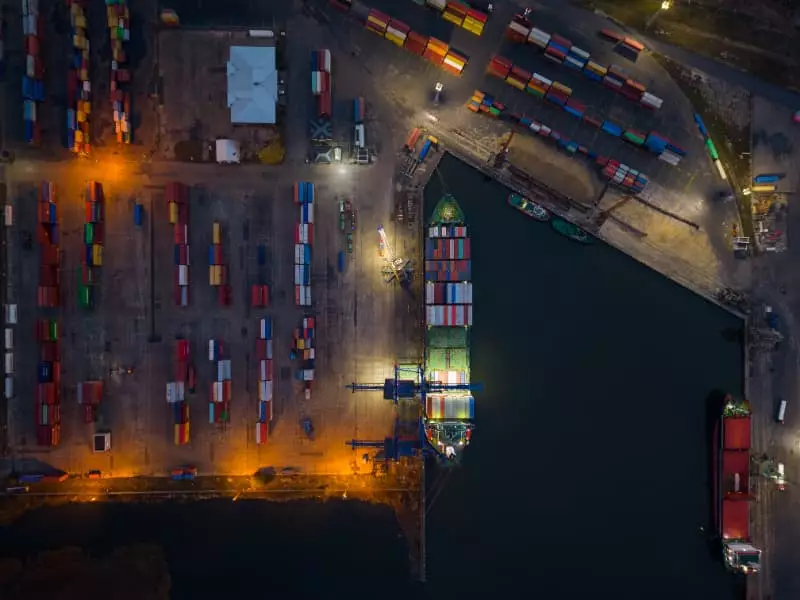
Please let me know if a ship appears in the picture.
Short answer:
Yes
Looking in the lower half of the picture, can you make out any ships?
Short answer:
Yes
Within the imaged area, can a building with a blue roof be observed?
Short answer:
Yes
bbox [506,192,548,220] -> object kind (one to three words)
boat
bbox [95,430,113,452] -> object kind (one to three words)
building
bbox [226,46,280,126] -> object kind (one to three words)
building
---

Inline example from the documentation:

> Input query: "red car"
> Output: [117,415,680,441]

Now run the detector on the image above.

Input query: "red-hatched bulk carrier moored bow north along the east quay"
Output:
[712,391,762,576]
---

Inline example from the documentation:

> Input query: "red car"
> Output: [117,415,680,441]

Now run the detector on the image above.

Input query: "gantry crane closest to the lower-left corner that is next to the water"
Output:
[344,404,426,473]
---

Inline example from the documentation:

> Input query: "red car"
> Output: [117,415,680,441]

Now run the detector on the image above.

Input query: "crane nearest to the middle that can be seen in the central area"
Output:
[377,226,413,284]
